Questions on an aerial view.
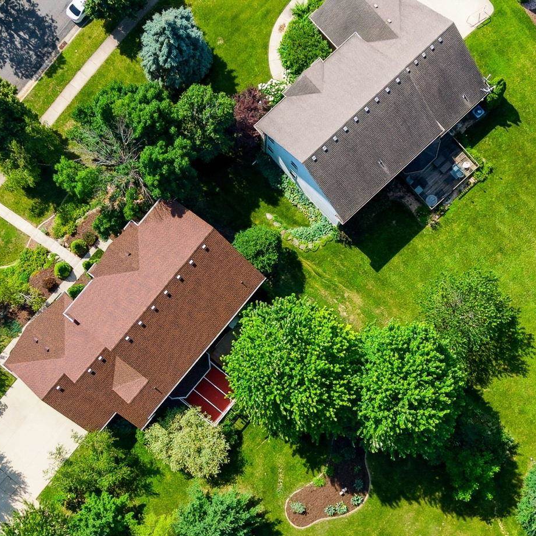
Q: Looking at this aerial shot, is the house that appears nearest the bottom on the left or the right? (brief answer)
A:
left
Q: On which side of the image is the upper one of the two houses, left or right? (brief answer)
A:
right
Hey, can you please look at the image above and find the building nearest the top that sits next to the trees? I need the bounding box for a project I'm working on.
[254,0,499,229]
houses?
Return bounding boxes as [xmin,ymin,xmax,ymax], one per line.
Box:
[3,200,266,437]
[254,0,499,229]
